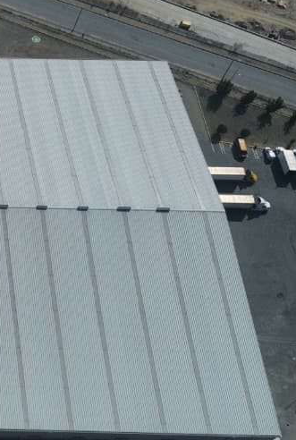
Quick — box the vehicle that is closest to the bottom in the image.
[219,195,275,214]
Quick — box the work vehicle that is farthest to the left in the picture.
[179,17,195,30]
